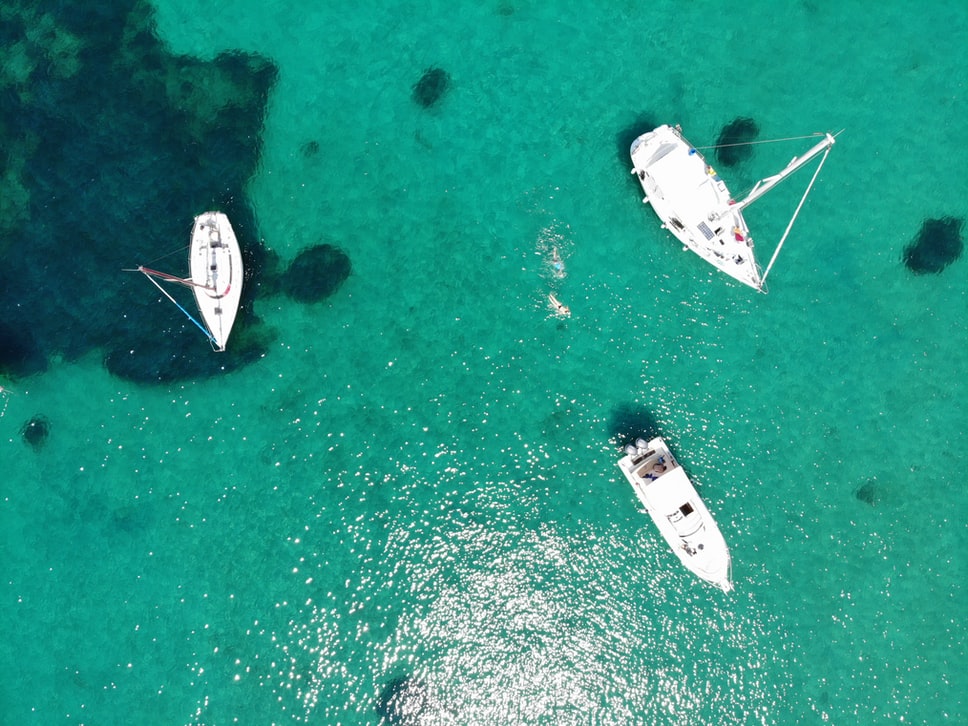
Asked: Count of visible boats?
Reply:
3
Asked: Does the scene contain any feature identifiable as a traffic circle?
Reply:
No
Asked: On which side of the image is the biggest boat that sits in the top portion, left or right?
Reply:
right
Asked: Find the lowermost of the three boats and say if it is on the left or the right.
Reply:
right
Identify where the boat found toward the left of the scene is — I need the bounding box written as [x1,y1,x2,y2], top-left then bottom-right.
[123,211,244,354]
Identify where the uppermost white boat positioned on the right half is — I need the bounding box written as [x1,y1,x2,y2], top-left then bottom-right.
[628,117,841,298]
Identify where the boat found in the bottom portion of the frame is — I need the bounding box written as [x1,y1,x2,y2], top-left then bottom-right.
[616,434,735,597]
